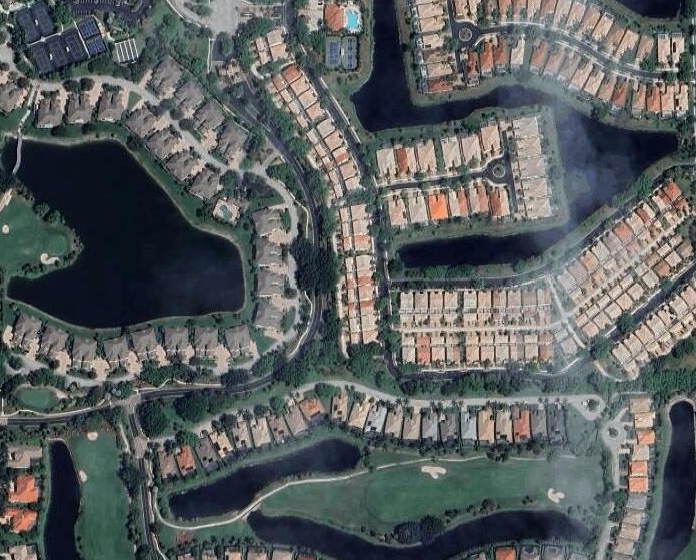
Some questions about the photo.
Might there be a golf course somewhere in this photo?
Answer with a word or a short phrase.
Yes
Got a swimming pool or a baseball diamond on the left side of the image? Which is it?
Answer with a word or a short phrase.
swimming pool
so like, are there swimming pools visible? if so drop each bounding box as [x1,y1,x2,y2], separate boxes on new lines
[213,200,239,225]
[344,4,361,34]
